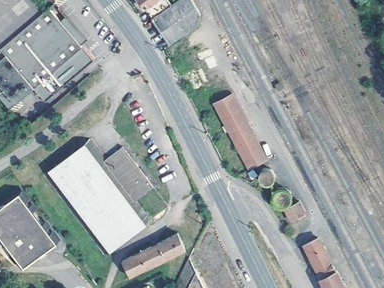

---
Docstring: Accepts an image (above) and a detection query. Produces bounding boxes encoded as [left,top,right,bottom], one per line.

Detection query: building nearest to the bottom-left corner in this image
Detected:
[0,189,62,270]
